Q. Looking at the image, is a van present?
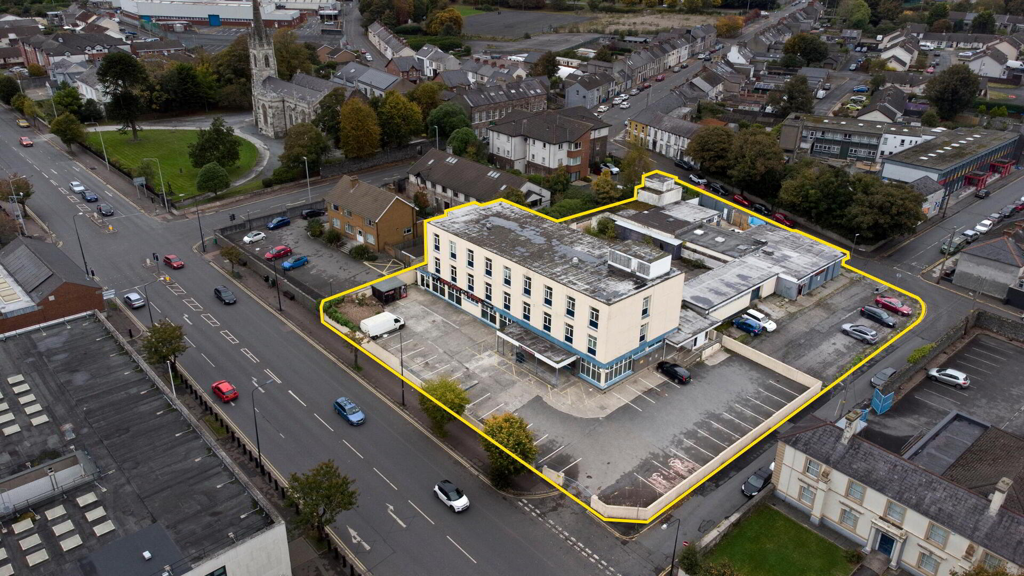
Yes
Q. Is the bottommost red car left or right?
left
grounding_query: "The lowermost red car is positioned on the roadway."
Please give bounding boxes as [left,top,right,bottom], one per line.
[208,383,239,407]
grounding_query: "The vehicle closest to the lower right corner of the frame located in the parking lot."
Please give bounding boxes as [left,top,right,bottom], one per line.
[933,364,976,387]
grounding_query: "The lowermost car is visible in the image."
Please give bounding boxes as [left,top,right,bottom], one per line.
[431,480,472,517]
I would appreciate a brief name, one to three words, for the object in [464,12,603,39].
sports field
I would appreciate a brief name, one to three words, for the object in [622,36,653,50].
shed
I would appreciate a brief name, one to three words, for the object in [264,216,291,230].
car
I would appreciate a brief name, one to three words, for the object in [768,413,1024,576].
house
